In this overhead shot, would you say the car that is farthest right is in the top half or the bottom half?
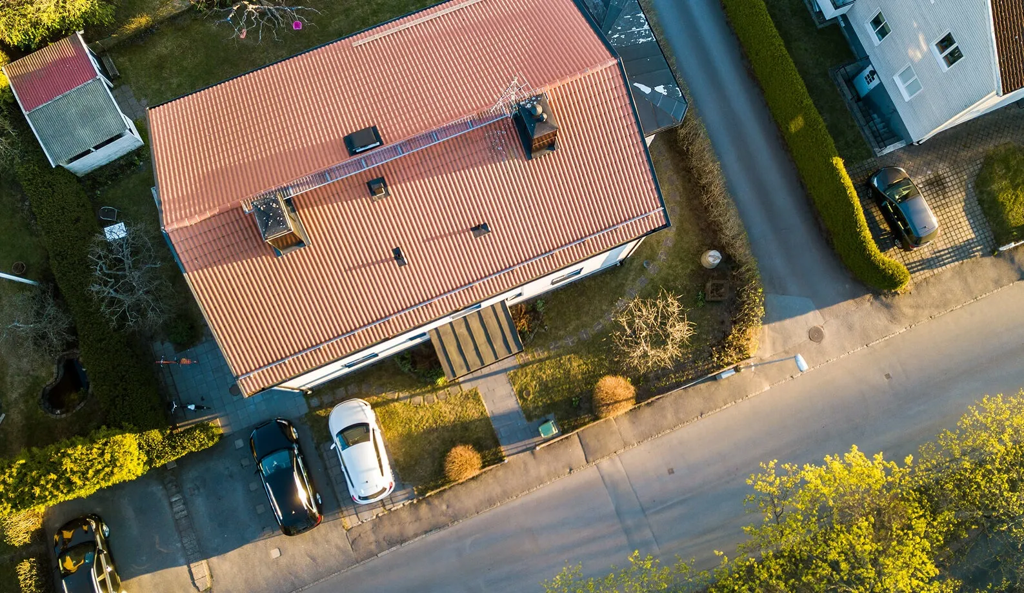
top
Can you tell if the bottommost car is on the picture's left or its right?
left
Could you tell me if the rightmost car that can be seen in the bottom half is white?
Yes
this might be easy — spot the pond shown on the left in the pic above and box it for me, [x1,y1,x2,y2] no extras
[37,352,93,420]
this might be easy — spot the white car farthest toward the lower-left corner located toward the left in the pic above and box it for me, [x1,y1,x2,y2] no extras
[326,396,400,508]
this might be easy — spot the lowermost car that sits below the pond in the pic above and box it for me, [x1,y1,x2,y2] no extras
[47,512,134,593]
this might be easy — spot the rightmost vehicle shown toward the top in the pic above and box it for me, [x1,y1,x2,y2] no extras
[865,162,946,253]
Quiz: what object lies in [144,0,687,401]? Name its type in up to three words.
house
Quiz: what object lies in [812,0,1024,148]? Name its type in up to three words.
house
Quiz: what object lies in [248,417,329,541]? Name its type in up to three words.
car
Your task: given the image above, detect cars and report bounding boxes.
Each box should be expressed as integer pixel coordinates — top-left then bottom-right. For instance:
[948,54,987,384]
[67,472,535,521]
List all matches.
[865,162,946,253]
[47,512,134,593]
[248,417,329,541]
[326,396,400,508]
